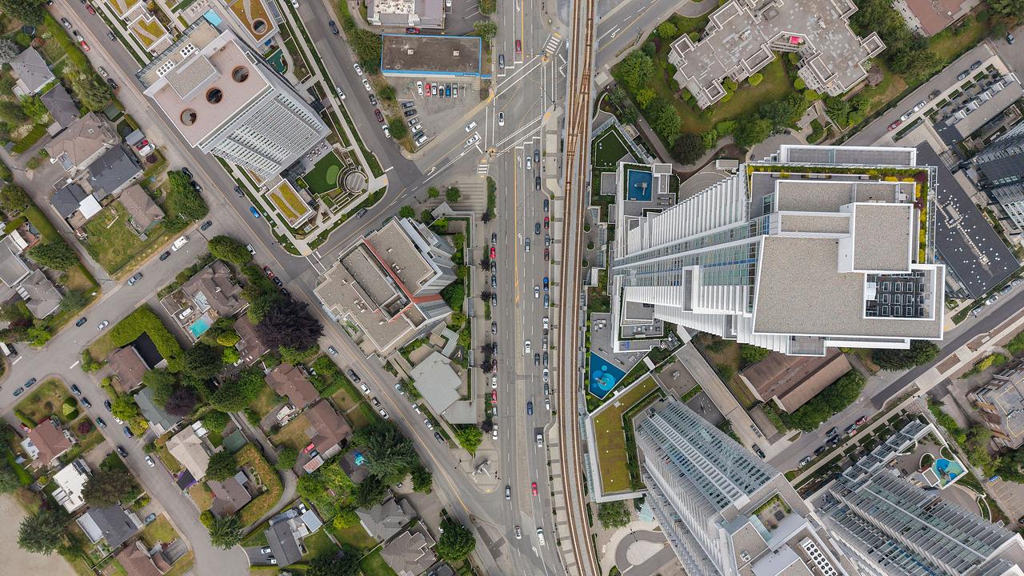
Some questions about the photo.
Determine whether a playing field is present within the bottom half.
No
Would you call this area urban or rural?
urban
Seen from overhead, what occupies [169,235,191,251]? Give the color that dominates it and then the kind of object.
white camper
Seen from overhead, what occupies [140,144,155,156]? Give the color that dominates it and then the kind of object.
white vehicle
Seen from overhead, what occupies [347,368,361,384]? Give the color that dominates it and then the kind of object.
gray car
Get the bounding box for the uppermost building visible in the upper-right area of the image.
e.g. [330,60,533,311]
[894,0,981,39]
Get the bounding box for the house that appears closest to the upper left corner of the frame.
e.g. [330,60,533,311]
[10,46,59,101]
